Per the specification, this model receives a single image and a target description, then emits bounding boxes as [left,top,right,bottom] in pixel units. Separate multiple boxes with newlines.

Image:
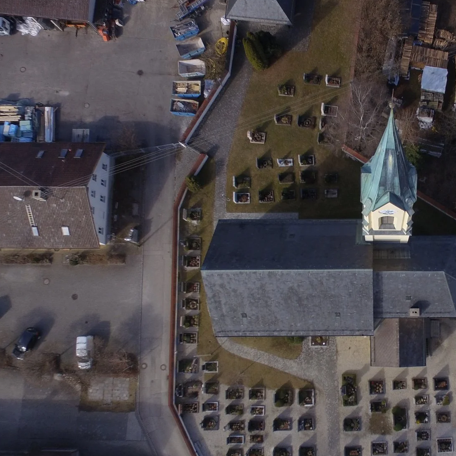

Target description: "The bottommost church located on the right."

[201,92,456,368]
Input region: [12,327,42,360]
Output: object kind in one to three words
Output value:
car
